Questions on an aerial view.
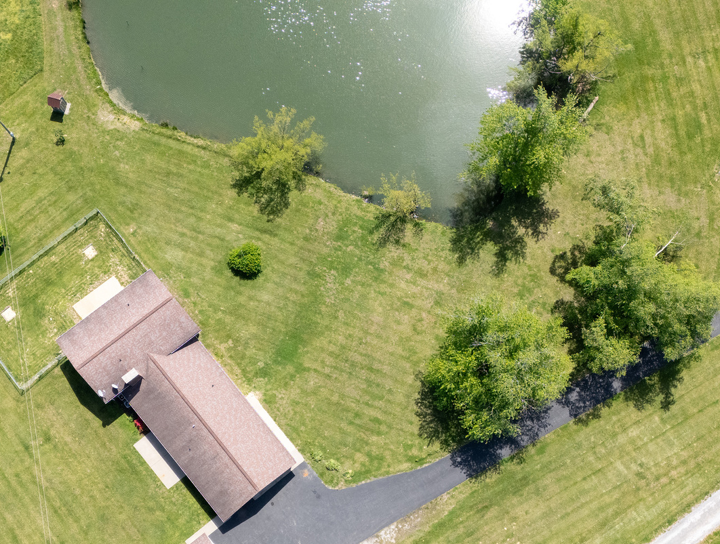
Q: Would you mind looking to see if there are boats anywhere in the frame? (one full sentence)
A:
No, the picture doesn't show any boat.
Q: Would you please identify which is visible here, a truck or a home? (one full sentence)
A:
Looking from above, you can make out a home.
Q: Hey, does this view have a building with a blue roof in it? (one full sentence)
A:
No, the scene contains no building with a blue roof.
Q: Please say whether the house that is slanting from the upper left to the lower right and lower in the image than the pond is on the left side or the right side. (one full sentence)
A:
The house that is slanting from the upper left to the lower right and lower in the image than the pond is on the left side of the image.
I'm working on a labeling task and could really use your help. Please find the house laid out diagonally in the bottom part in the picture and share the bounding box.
[57,268,296,524]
